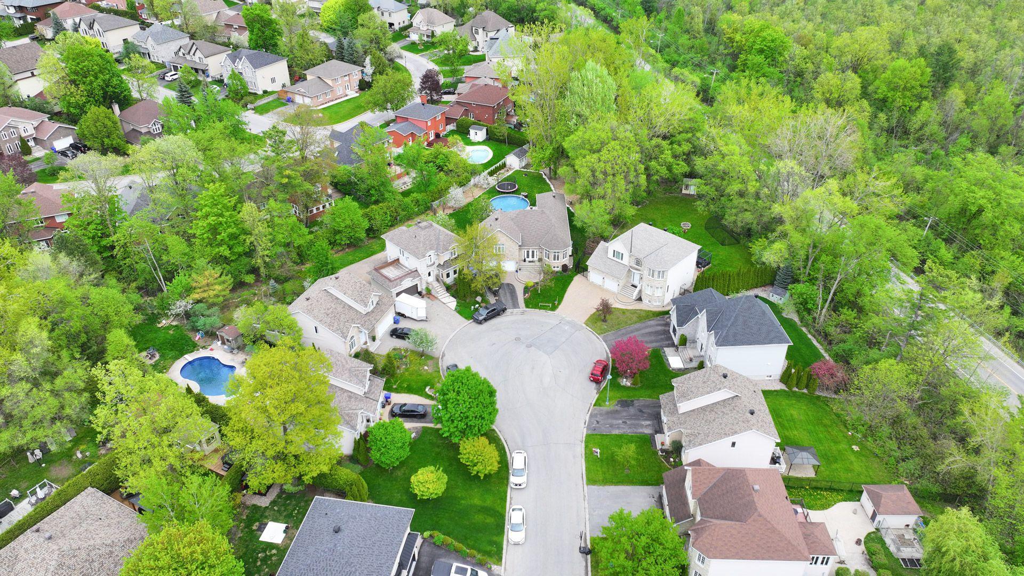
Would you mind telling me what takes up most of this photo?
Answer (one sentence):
What you mostly see from above here is trees.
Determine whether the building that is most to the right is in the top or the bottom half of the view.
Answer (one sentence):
You can find the building that is most to the right in the bottom half.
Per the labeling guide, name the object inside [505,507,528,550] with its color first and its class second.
white car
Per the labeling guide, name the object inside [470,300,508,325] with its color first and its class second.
gray truck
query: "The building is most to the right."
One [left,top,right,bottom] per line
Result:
[858,484,923,530]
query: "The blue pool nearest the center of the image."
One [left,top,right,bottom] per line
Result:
[489,195,531,209]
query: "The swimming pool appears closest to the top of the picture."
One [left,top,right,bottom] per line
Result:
[468,147,491,163]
